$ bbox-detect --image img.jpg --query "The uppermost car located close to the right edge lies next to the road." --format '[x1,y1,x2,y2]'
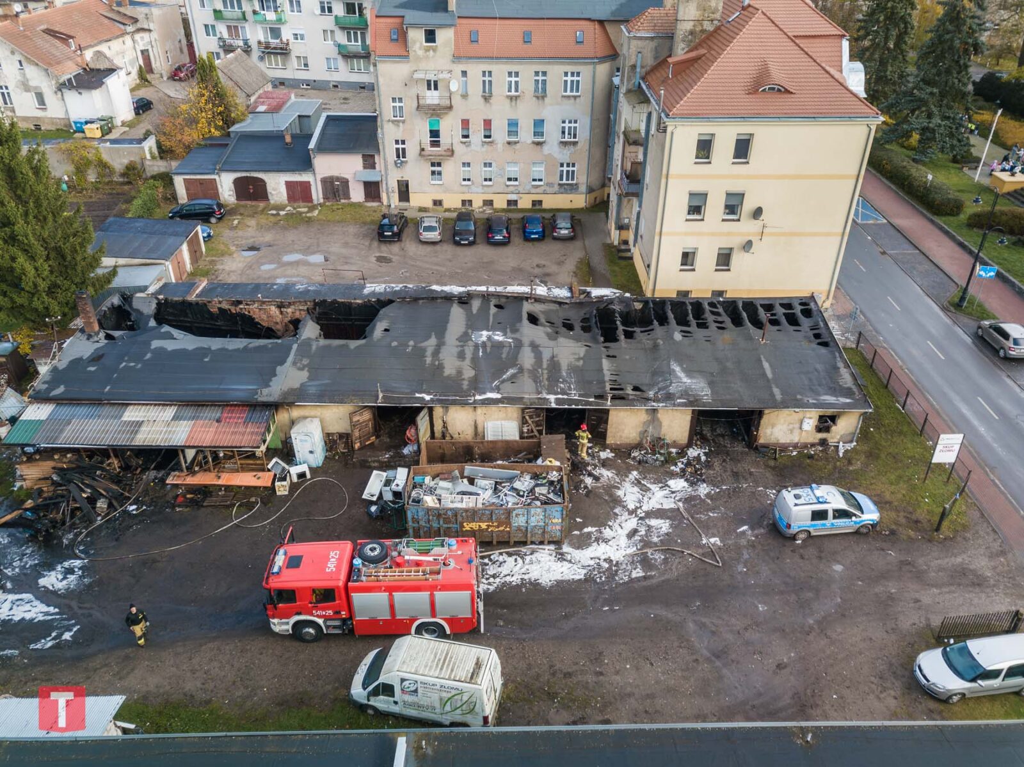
[974,319,1024,364]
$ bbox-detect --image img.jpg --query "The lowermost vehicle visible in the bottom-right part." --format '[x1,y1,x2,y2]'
[906,628,1024,705]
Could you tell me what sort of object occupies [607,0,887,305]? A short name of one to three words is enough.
house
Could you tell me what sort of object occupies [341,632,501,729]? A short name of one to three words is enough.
van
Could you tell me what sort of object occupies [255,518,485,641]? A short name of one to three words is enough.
truck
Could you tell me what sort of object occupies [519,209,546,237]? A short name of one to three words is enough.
car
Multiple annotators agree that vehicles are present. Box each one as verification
[906,628,1024,705]
[486,211,514,241]
[549,209,577,237]
[417,210,445,239]
[166,196,225,220]
[135,97,160,111]
[771,481,883,538]
[519,209,546,237]
[450,208,479,242]
[166,214,220,238]
[255,518,485,641]
[379,208,416,239]
[341,632,501,729]
[170,64,190,78]
[974,319,1024,364]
